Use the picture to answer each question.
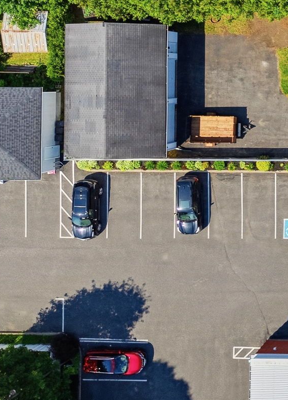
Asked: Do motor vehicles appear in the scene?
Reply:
Yes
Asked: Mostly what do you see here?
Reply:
paved ground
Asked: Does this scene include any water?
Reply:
No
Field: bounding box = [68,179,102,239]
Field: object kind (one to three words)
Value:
car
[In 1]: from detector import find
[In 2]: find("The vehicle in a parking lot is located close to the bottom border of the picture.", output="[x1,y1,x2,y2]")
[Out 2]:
[83,347,147,381]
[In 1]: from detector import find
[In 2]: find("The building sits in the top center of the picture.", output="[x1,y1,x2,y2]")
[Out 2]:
[65,22,182,159]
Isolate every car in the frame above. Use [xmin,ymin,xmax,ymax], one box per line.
[83,347,147,381]
[68,179,102,239]
[172,177,204,234]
